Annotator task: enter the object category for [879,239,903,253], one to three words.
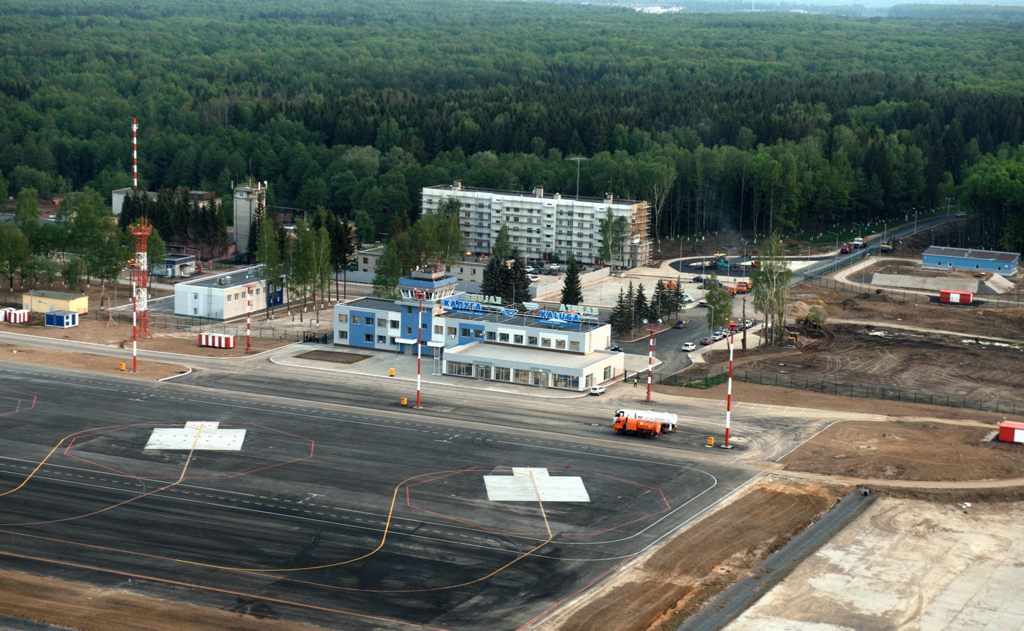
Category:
work vehicle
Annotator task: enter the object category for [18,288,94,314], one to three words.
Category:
building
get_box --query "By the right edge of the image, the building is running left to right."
[920,245,1024,275]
